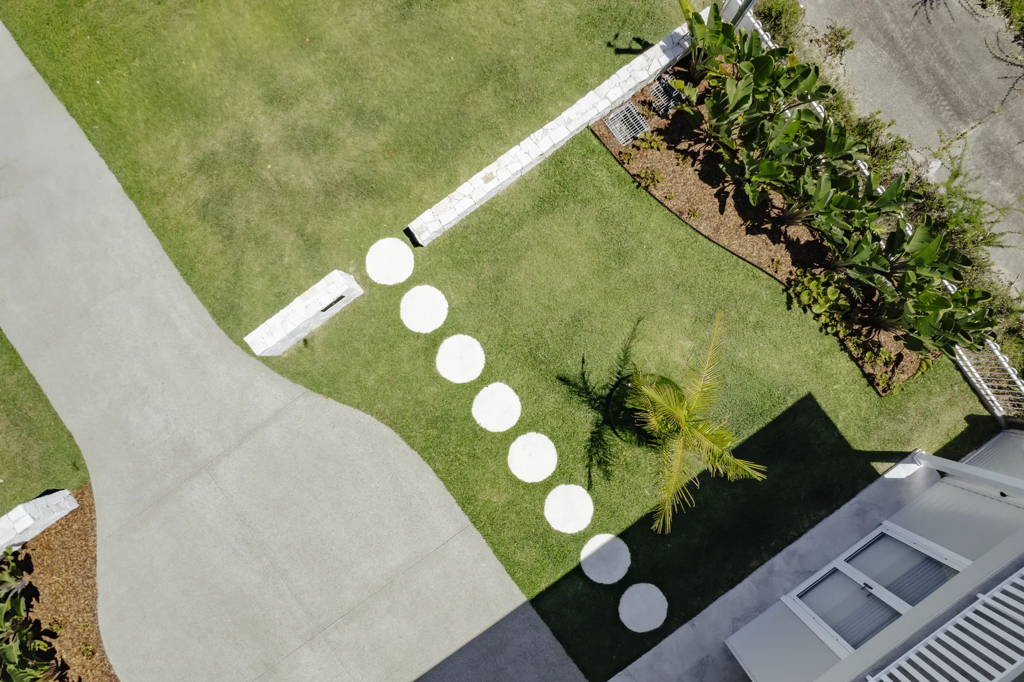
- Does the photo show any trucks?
No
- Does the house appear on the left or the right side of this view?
right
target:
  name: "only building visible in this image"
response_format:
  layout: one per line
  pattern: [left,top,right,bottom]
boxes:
[724,448,1024,682]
